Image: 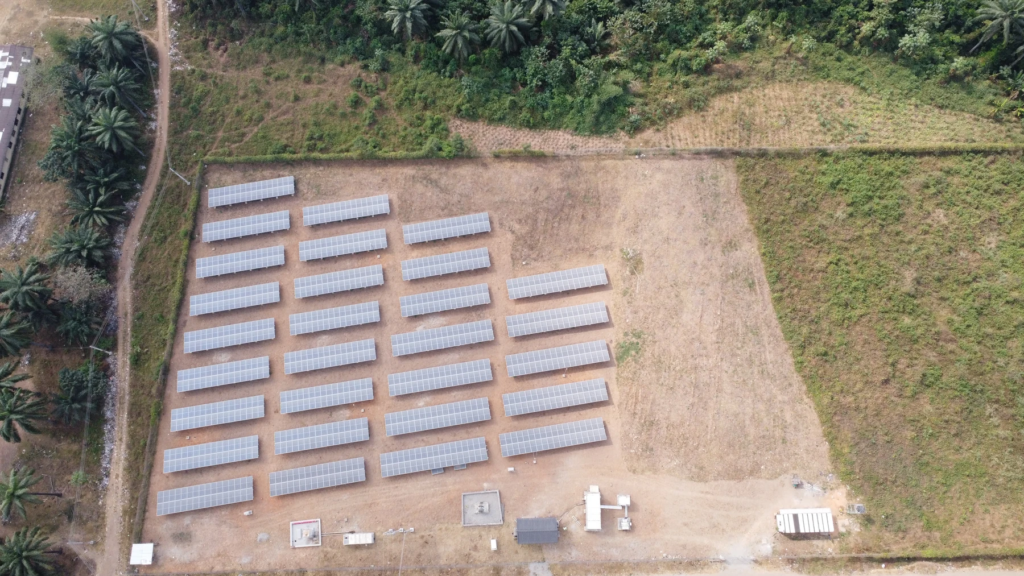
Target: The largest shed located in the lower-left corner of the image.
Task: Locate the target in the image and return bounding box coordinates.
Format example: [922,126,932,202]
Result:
[130,541,159,567]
